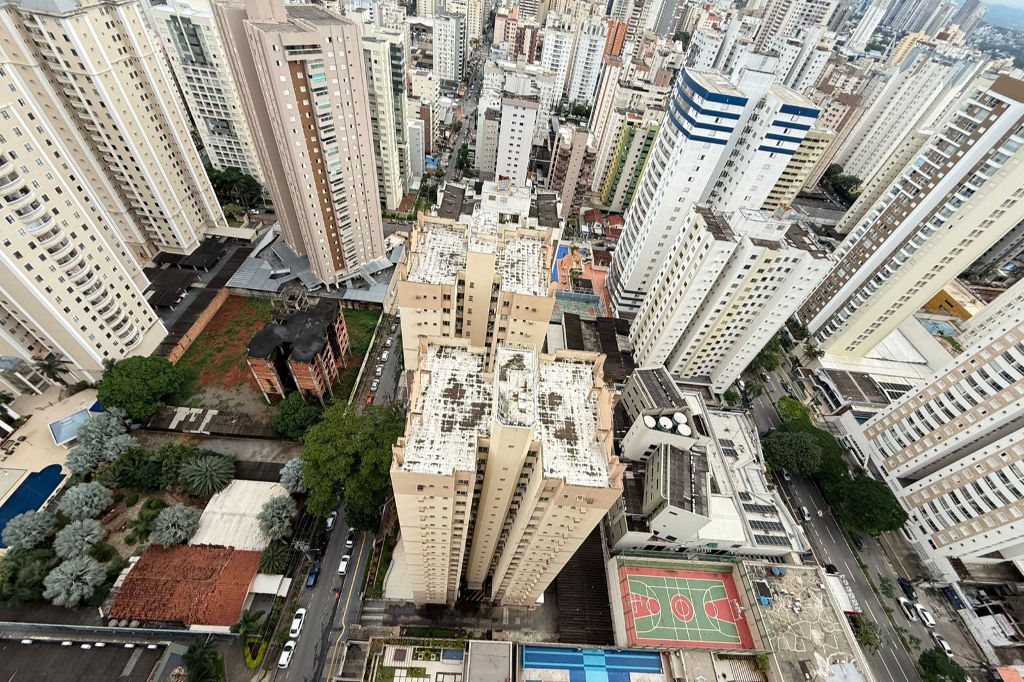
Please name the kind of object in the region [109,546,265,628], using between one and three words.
house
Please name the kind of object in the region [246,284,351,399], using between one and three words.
building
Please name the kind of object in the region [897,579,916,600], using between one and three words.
car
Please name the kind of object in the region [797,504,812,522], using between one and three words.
car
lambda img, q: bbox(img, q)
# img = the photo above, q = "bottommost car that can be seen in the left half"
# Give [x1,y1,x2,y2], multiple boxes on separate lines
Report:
[277,639,296,670]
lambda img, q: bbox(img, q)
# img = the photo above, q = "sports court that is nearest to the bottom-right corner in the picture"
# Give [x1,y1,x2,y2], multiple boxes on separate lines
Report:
[618,561,750,646]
